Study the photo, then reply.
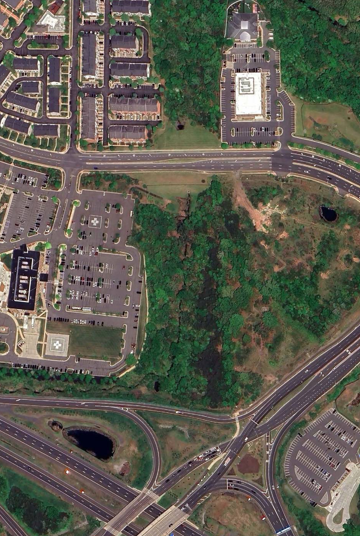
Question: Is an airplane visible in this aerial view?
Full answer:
No, no airplane is visible in the scene.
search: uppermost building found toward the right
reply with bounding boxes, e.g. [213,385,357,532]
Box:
[227,12,258,41]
